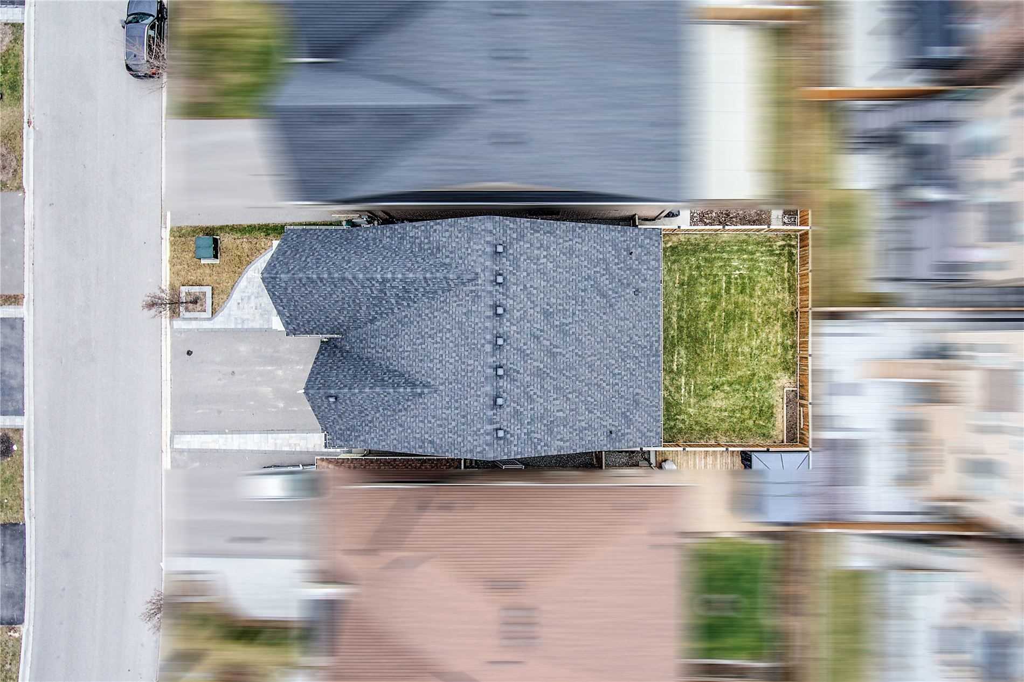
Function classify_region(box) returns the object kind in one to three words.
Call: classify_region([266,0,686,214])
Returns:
house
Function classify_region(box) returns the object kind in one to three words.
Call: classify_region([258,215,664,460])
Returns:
house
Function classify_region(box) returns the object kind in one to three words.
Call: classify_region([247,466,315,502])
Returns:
car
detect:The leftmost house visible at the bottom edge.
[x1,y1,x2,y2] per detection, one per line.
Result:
[307,455,684,682]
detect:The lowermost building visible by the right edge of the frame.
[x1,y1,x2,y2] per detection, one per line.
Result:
[943,538,1024,682]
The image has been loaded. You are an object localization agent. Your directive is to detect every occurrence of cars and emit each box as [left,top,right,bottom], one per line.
[247,466,315,502]
[124,0,167,82]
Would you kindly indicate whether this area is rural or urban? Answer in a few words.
urban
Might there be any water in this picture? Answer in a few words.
No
